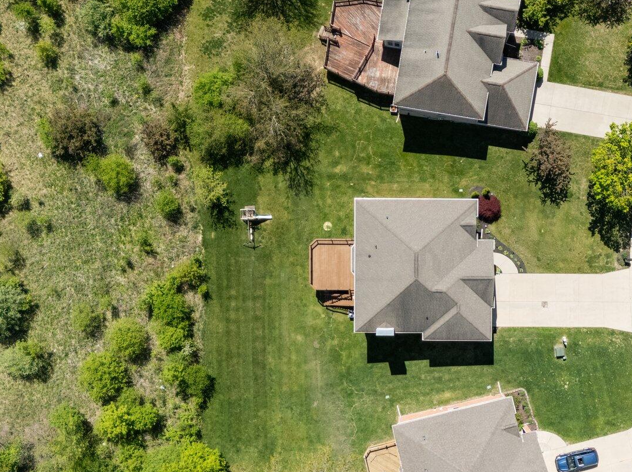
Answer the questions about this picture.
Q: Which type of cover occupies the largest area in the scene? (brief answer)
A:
grass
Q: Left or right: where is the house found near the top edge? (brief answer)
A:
right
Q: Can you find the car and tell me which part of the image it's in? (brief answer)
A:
bottom right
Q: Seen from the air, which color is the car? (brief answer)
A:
blue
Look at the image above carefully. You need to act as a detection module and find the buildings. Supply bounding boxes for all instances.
[350,198,495,341]
[377,0,540,133]
[391,382,549,472]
